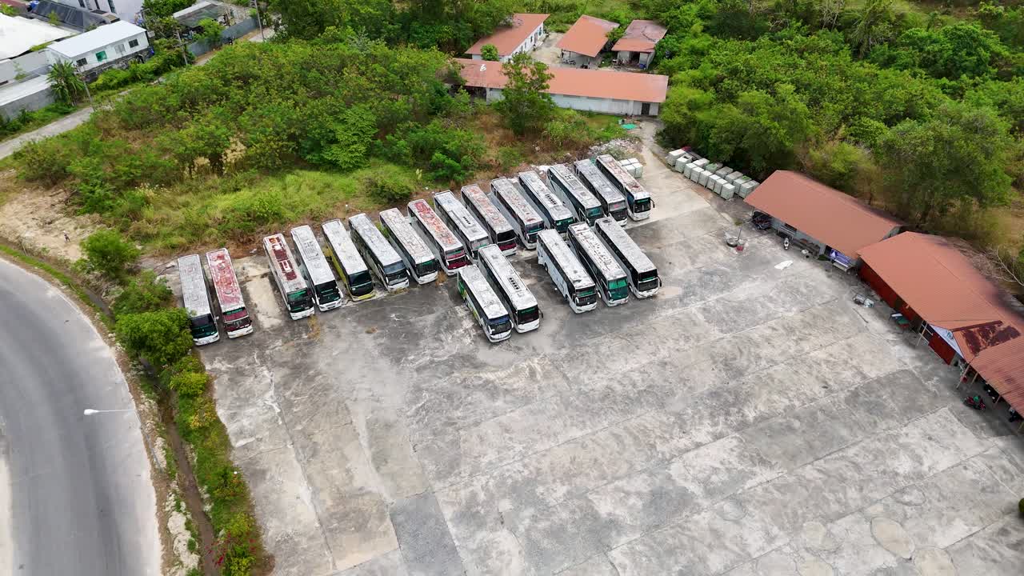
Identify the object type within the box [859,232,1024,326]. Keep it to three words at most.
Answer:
building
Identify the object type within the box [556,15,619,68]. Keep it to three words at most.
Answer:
shed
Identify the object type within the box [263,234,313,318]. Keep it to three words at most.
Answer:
bus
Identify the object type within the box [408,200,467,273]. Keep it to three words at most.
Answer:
bus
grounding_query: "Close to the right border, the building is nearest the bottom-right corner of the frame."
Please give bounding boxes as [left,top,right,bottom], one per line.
[916,321,1024,429]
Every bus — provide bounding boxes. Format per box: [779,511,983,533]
[537,230,597,312]
[479,245,543,332]
[548,166,605,229]
[519,173,574,242]
[207,249,250,337]
[179,255,217,343]
[291,227,340,309]
[596,155,654,220]
[408,200,467,273]
[435,192,491,263]
[379,209,438,285]
[263,234,313,318]
[594,219,662,296]
[461,185,518,256]
[491,179,546,247]
[573,160,628,223]
[458,266,512,342]
[322,221,373,298]
[349,215,407,290]
[568,224,629,305]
